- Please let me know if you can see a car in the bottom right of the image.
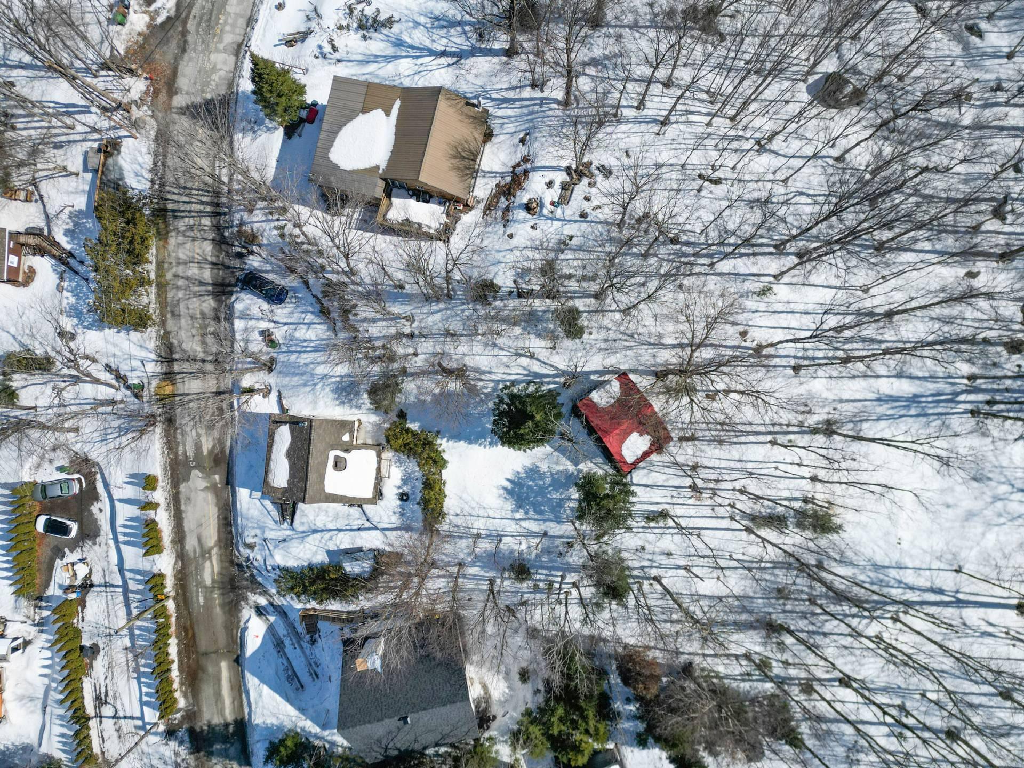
No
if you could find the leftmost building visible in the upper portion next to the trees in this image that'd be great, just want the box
[0,228,91,293]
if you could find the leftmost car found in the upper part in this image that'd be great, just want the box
[235,268,286,304]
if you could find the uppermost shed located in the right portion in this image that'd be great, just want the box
[575,372,673,473]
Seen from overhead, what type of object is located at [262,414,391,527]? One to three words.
house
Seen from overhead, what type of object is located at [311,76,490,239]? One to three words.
house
